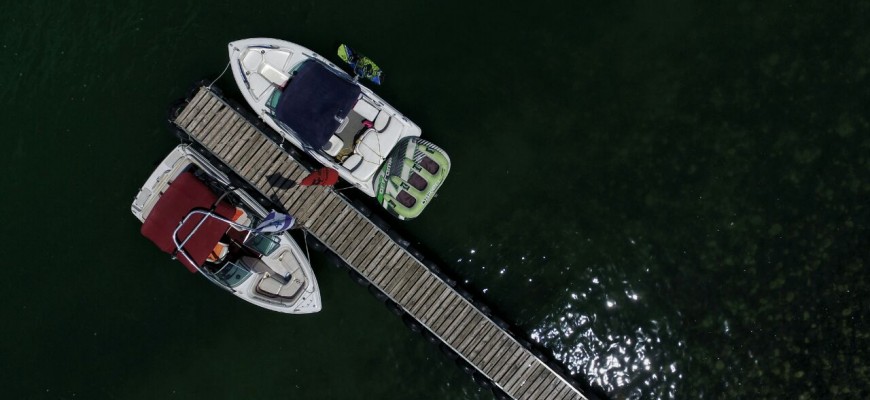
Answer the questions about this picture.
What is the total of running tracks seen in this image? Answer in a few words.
0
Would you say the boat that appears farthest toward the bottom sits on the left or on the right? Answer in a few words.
left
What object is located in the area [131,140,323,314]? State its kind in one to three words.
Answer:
boat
